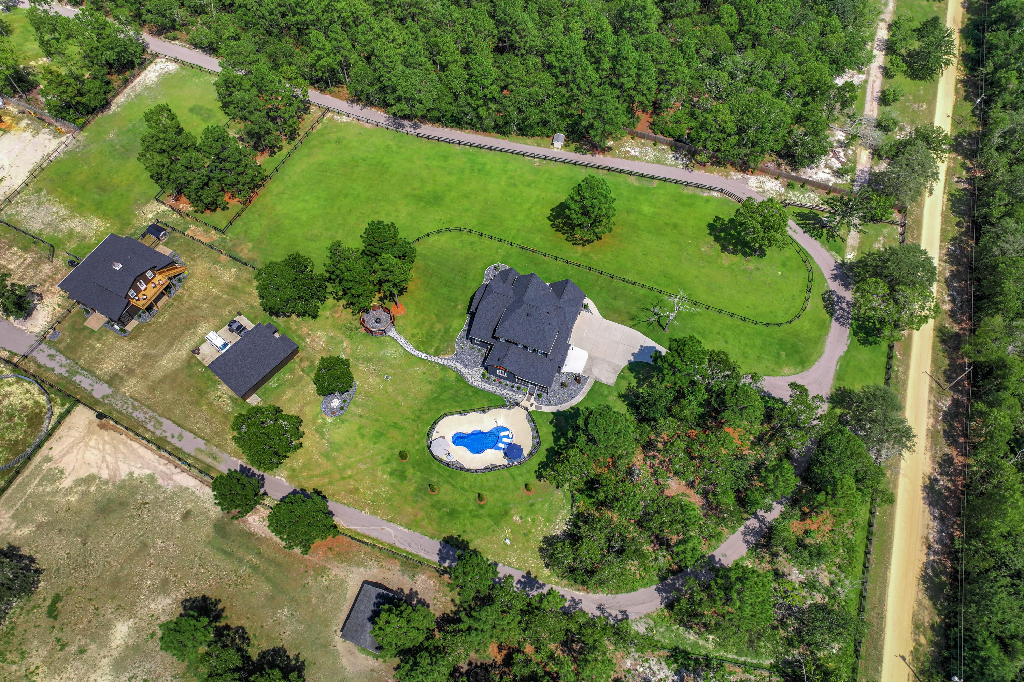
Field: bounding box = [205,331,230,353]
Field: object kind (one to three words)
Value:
truck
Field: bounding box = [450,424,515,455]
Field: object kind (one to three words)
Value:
swimming pool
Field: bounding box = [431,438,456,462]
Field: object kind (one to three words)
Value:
umbrella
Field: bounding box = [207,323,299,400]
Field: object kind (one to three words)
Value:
building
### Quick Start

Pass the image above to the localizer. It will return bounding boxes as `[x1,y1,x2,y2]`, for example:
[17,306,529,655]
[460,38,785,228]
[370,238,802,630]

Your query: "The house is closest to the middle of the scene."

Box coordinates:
[469,267,587,396]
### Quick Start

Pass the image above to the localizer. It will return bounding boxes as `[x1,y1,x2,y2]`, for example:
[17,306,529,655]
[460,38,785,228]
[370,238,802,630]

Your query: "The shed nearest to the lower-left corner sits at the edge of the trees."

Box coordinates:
[340,583,394,654]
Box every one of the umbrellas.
[431,438,456,462]
[506,443,523,460]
